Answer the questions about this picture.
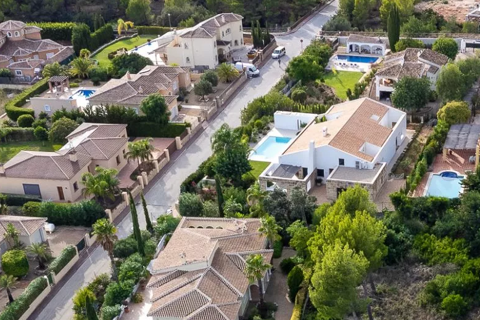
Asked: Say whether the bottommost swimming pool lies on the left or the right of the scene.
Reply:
right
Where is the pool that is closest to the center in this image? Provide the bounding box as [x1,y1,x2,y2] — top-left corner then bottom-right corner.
[251,135,291,158]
